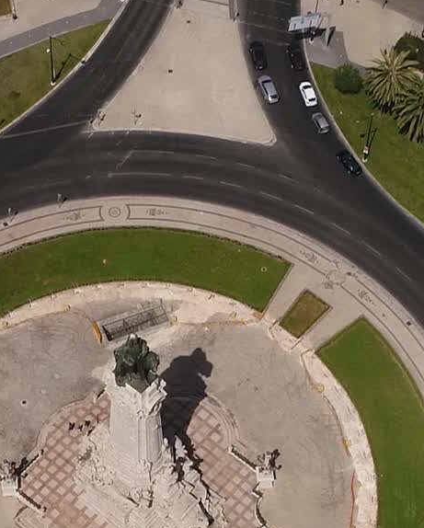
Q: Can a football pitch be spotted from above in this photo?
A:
No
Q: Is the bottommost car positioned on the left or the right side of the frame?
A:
right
